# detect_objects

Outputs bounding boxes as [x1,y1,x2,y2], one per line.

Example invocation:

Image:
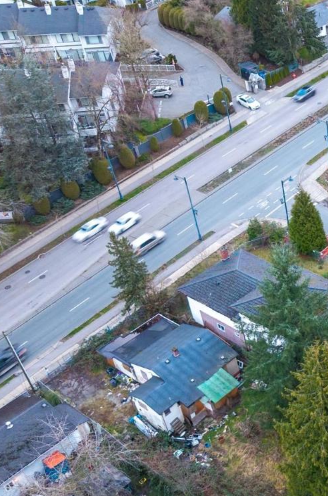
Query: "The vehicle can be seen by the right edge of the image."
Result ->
[293,81,317,100]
